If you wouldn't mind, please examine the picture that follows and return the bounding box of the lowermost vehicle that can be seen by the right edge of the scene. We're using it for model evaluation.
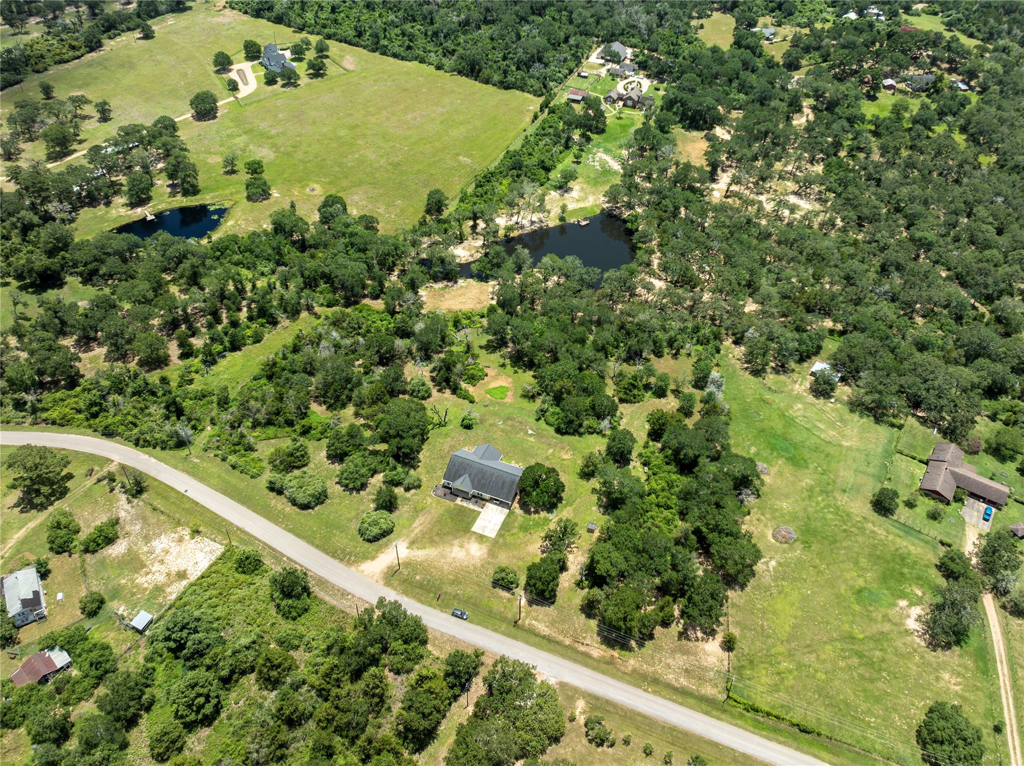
[983,505,995,521]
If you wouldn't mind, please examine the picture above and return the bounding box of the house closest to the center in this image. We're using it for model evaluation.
[442,444,528,509]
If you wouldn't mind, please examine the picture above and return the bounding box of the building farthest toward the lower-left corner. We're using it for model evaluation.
[10,644,75,693]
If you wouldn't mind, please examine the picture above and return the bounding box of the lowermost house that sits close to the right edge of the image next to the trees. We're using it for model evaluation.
[920,444,1010,507]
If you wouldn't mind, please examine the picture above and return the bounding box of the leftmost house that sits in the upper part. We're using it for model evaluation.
[261,40,302,78]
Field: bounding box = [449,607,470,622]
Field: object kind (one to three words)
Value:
car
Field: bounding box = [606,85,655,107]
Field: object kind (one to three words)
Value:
house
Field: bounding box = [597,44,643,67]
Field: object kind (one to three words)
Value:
barn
